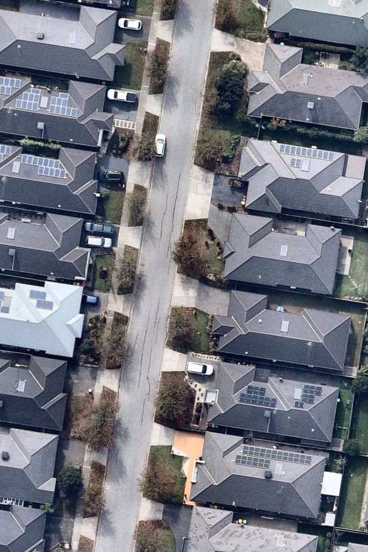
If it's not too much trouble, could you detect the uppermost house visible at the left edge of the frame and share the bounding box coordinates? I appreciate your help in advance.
[0,5,127,81]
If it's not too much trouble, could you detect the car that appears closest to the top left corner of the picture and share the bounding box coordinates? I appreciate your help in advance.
[117,18,143,31]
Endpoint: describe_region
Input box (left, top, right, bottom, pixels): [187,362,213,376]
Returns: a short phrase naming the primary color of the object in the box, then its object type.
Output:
white vehicle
